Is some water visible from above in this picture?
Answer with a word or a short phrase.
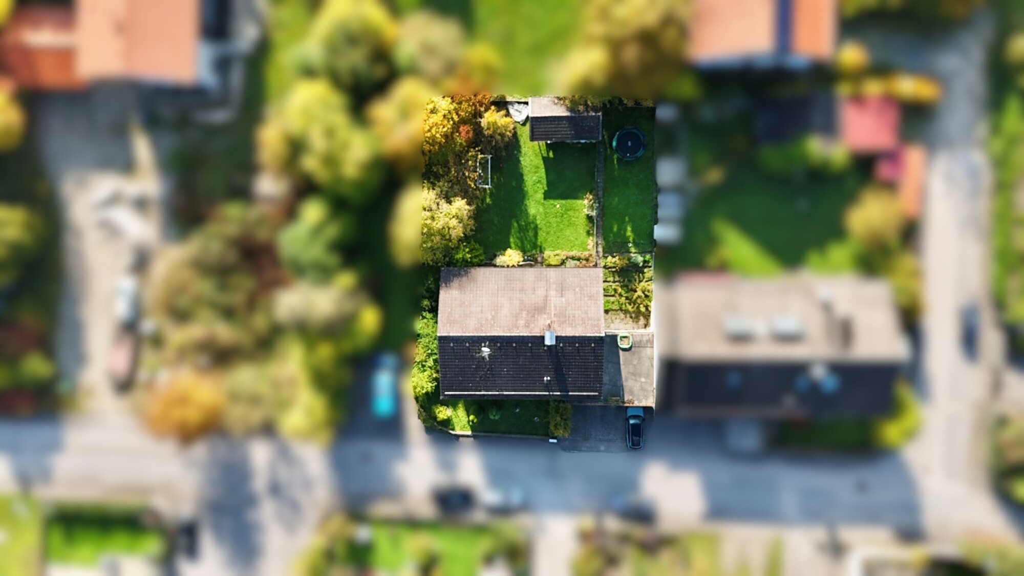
No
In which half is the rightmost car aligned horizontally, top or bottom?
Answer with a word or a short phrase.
bottom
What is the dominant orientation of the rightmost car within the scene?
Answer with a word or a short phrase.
up and down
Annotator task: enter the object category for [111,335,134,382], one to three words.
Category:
car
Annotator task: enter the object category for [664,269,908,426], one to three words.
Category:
house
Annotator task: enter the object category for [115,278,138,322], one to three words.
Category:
car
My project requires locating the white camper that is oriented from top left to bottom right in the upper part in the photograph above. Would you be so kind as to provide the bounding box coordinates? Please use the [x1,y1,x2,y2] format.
[96,194,153,241]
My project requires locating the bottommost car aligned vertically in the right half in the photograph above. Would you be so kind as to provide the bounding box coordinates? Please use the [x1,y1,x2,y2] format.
[625,408,646,450]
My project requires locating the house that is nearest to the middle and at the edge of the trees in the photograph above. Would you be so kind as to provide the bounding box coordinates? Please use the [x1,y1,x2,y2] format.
[438,266,605,400]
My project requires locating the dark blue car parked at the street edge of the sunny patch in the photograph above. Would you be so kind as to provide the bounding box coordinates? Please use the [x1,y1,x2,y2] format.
[615,496,658,517]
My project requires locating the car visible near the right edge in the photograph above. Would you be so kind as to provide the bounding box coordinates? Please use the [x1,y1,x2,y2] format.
[957,308,980,352]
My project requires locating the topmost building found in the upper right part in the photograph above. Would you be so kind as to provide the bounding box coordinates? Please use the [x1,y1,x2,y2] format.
[681,0,841,75]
